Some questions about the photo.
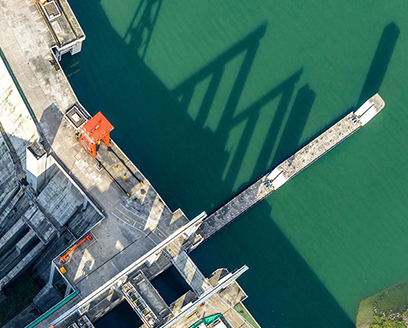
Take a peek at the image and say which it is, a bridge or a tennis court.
bridge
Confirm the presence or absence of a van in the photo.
No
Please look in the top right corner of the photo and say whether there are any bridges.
No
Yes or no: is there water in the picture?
Yes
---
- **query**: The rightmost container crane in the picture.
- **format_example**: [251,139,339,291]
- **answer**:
[77,107,119,161]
